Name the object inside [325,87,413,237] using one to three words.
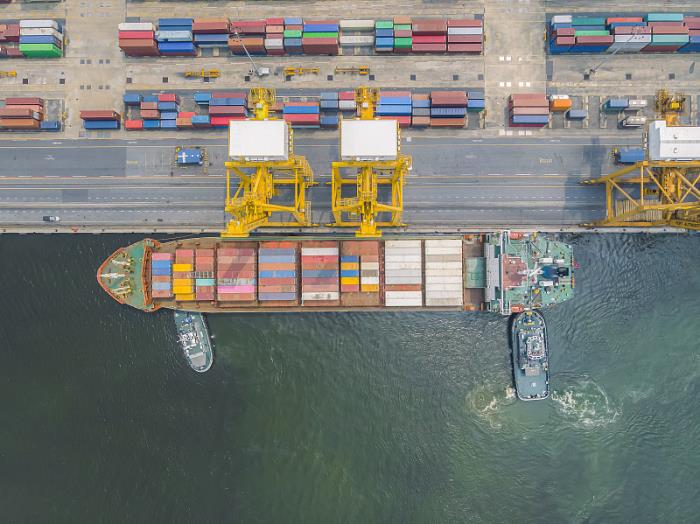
container crane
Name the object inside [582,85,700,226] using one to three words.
container crane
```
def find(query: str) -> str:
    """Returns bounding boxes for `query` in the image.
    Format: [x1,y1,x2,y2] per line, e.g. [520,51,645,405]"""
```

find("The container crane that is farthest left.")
[218,88,318,237]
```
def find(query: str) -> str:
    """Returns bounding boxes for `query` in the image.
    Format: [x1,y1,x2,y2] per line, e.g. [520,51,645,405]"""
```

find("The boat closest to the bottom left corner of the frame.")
[172,308,214,374]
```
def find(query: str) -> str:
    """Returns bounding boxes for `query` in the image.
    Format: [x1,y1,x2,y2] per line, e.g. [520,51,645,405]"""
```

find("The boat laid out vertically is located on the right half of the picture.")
[511,311,554,402]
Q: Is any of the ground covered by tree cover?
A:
No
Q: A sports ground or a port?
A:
port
